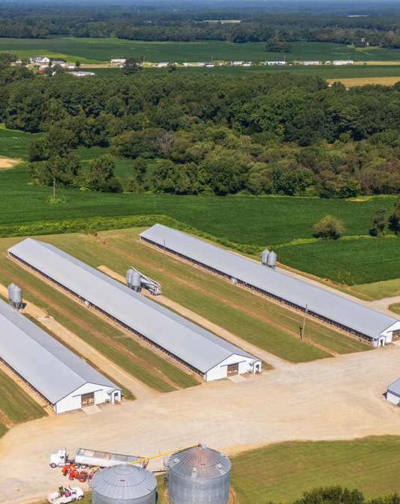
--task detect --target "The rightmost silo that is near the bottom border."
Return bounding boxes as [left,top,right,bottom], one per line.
[165,445,234,504]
